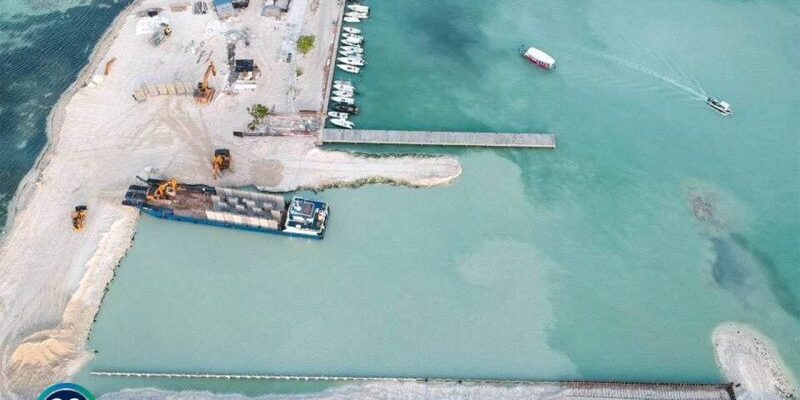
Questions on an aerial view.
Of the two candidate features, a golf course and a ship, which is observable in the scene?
ship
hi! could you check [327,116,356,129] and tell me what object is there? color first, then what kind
white boat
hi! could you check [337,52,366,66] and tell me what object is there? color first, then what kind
white boat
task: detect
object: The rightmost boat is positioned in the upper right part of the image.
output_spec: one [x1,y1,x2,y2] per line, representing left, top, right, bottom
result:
[705,95,734,113]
